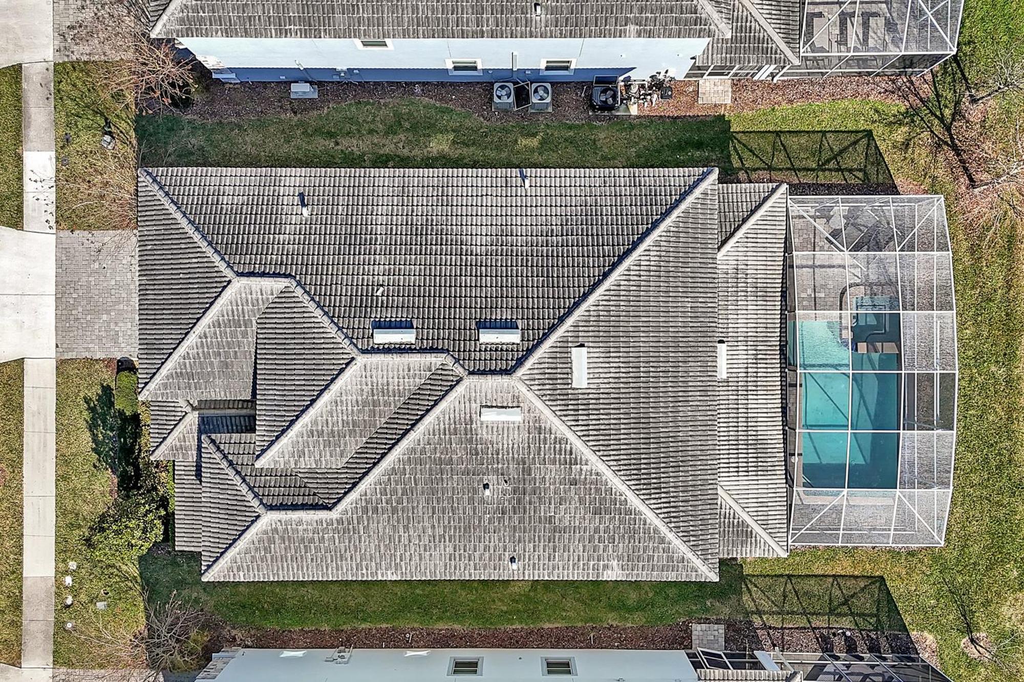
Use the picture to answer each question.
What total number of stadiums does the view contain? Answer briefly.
0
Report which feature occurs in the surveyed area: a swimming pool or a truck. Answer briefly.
swimming pool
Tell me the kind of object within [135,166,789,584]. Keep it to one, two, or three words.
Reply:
house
